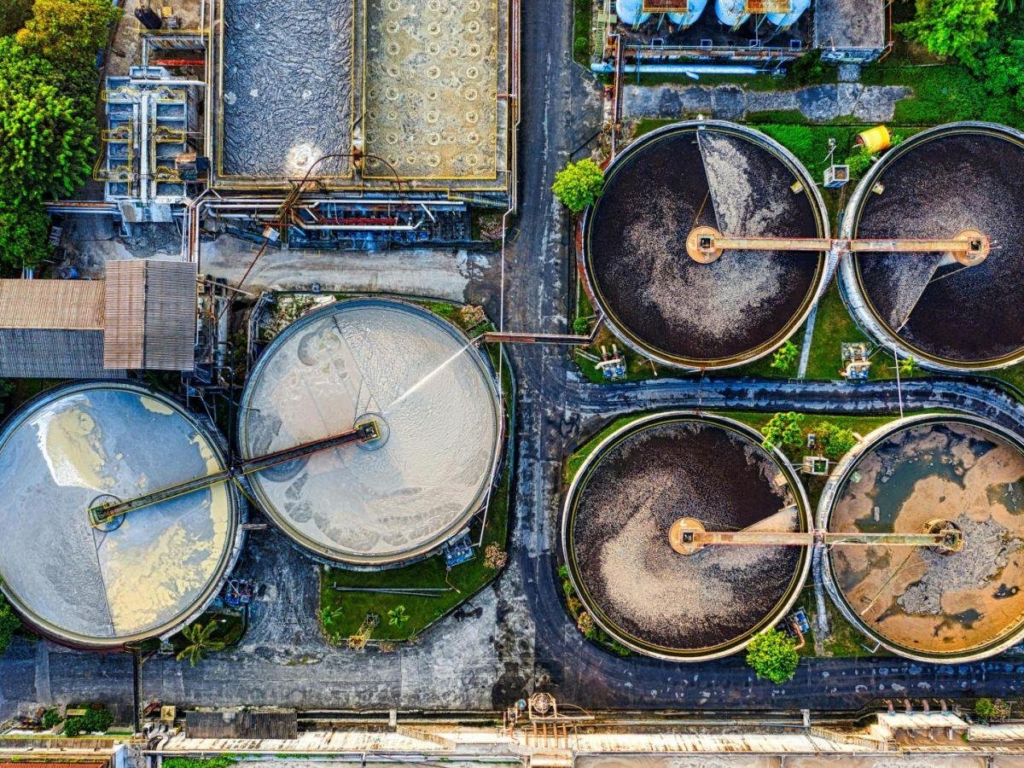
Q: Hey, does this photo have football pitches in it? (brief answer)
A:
No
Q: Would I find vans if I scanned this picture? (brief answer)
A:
No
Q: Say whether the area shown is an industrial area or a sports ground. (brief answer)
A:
industrial area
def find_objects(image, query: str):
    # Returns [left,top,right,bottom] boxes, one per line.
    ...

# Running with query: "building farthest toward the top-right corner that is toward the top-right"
[805,0,885,69]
